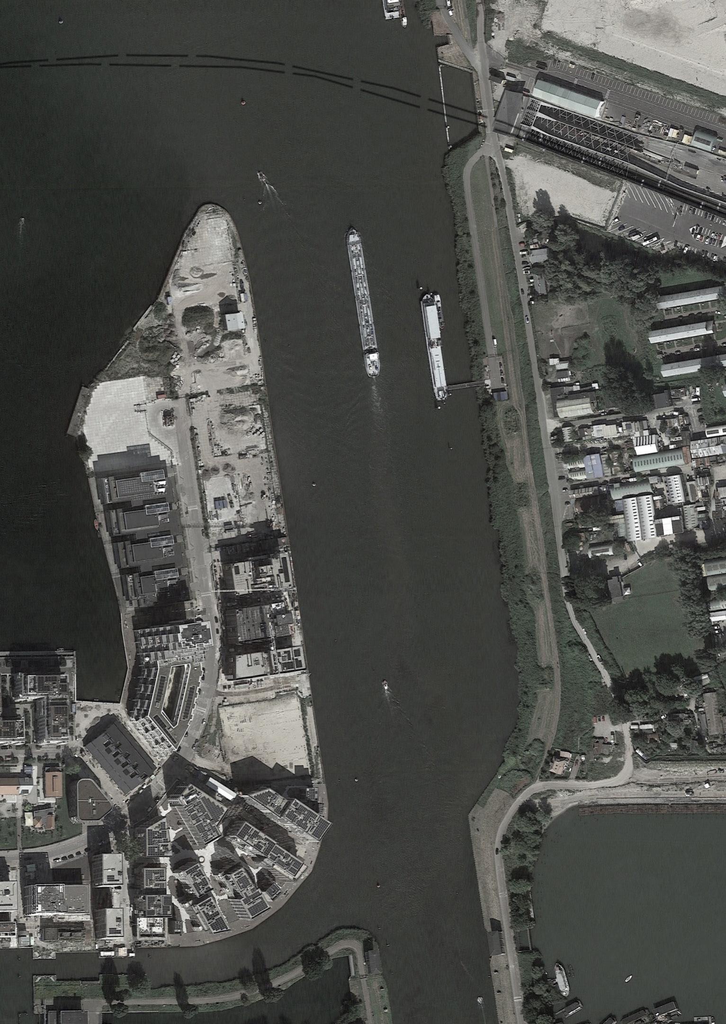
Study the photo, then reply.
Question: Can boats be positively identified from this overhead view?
Yes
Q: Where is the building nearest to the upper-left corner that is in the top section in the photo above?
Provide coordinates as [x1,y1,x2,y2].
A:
[222,312,245,331]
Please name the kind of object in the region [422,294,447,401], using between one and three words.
ship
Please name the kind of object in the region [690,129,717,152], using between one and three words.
shed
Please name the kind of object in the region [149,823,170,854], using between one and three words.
solar array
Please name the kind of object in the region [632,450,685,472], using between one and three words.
building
